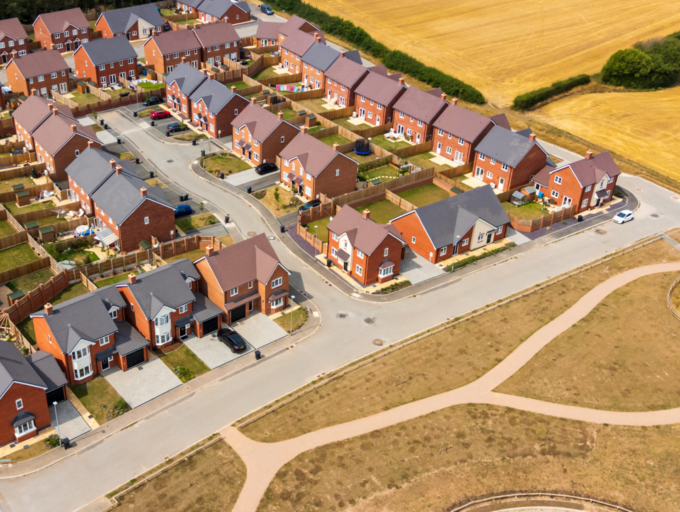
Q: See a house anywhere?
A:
Yes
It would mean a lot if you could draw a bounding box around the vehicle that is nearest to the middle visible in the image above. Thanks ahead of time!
[298,198,322,212]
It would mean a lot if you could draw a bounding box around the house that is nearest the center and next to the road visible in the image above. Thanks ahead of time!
[326,205,410,285]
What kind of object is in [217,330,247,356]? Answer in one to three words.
car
